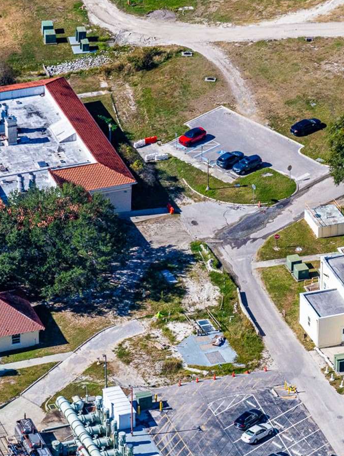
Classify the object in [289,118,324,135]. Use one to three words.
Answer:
car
